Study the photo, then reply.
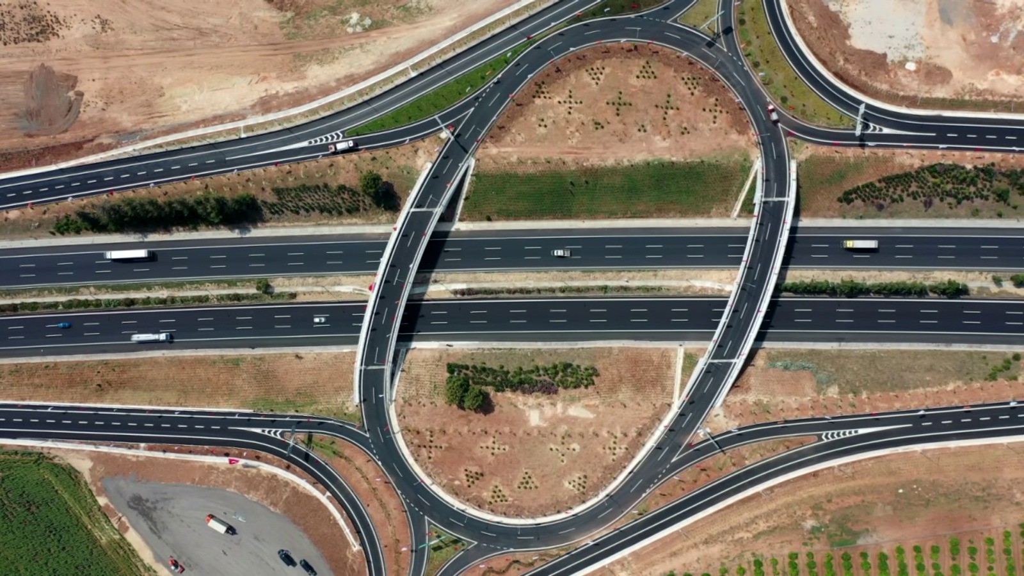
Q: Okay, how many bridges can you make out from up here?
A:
2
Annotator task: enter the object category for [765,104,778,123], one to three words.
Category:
vehicle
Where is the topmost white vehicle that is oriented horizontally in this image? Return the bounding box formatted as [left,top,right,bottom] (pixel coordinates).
[329,141,355,153]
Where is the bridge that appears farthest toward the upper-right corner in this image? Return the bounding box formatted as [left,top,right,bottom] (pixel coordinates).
[675,160,798,411]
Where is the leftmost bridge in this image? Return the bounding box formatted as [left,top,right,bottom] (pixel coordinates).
[352,157,471,407]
